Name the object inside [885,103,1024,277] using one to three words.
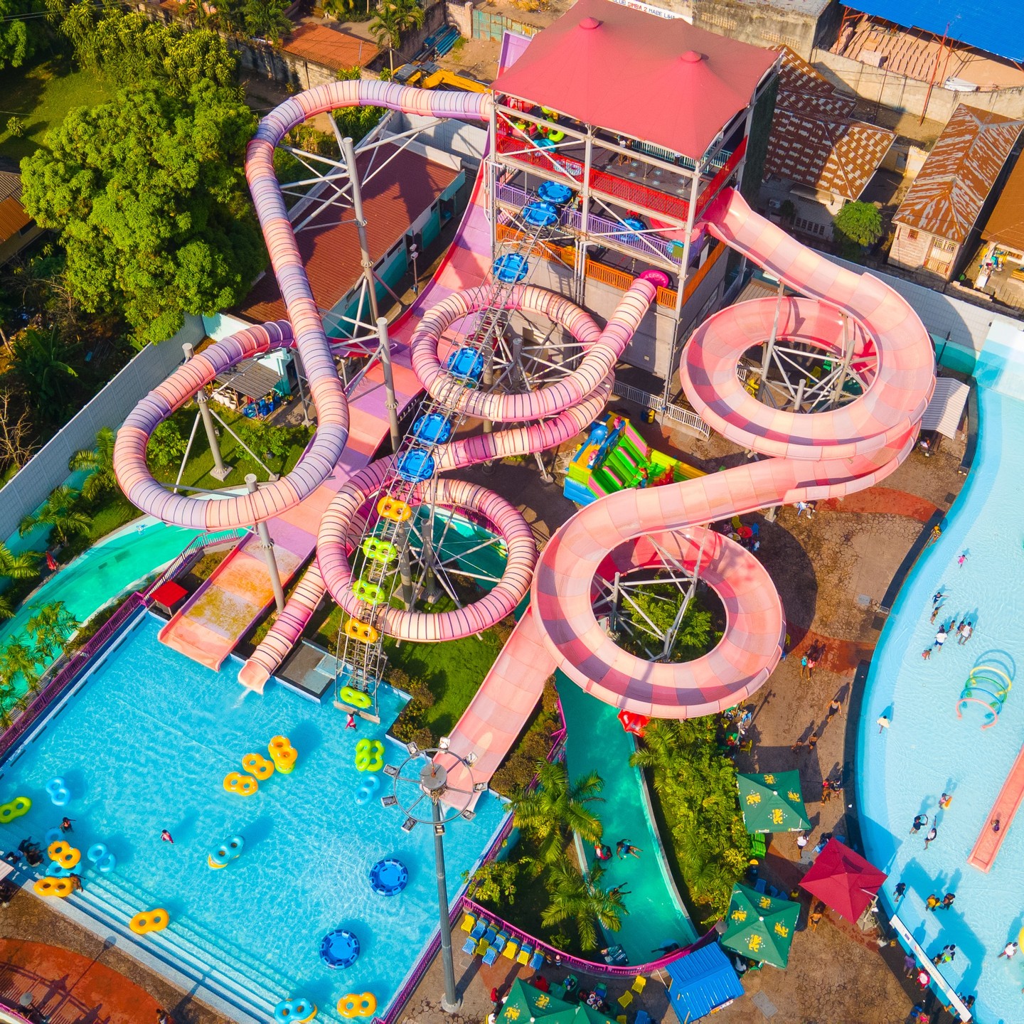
house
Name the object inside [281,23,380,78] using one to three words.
shed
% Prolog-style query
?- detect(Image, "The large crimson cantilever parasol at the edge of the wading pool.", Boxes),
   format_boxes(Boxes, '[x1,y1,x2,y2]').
[799,839,889,941]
